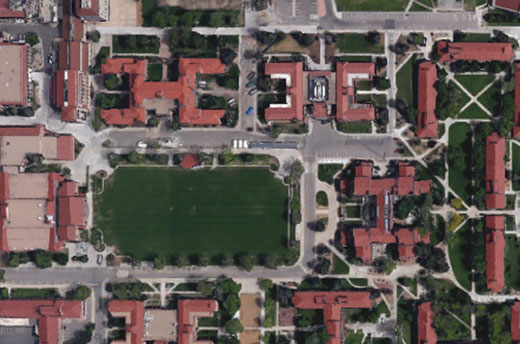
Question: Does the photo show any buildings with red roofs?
Yes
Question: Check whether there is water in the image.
No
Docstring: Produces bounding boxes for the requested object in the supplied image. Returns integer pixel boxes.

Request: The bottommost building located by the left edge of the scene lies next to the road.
[0,300,88,344]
